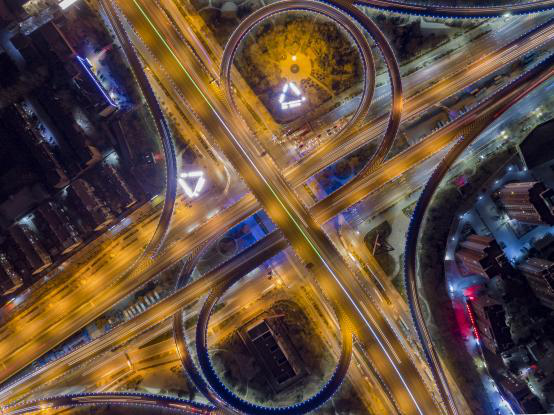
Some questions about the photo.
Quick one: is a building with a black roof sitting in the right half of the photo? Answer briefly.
Yes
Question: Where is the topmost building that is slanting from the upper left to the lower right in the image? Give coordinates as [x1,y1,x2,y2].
[30,15,75,58]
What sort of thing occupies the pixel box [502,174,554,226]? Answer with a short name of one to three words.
building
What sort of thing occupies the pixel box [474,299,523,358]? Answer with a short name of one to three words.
building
